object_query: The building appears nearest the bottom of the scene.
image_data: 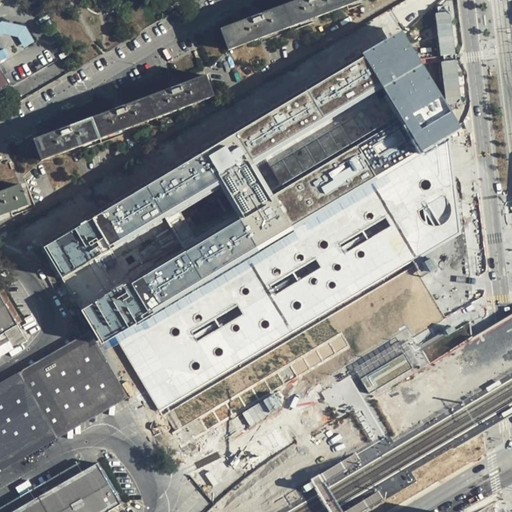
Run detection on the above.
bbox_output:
[0,462,118,512]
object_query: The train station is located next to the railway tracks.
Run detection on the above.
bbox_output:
[266,367,512,512]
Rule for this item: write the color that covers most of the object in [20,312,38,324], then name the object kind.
white vehicle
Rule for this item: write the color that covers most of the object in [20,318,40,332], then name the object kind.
white vehicle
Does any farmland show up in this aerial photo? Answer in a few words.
No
